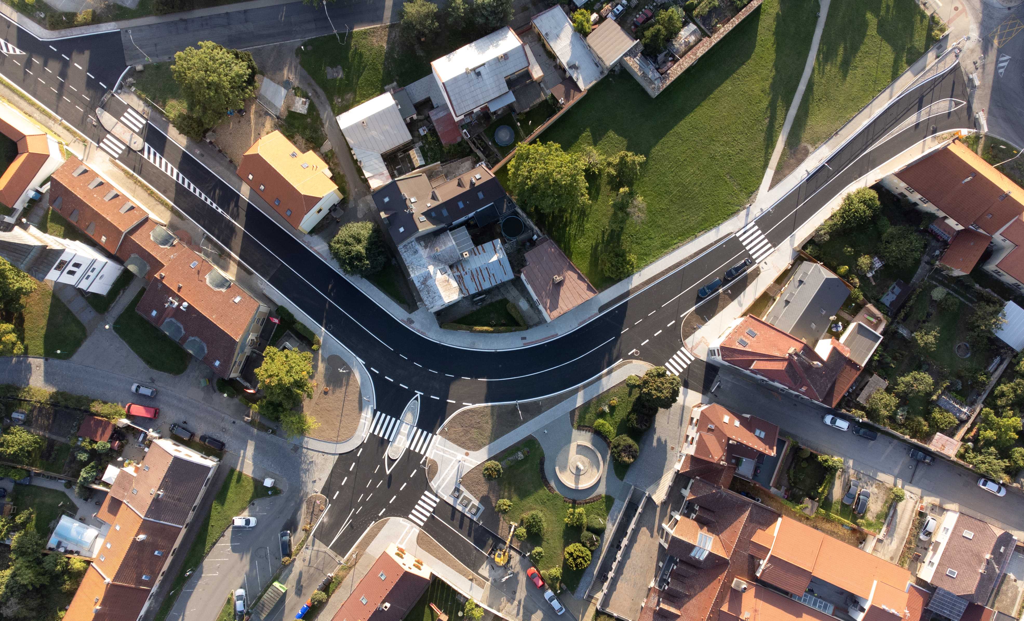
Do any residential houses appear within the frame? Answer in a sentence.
Yes, there's a residential house down there.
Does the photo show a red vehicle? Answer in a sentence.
Yes, the image includes a red vehicle.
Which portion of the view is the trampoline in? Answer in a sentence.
The trampoline sits in the top section of the image.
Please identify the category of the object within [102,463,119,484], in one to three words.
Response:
gazebo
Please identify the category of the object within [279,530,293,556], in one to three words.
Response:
car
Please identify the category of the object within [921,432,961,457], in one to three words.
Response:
shed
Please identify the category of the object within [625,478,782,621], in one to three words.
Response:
house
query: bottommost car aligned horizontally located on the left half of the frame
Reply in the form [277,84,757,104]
[232,516,258,528]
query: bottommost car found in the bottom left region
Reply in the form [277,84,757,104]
[233,588,248,615]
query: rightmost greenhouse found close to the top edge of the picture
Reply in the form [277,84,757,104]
[668,20,701,57]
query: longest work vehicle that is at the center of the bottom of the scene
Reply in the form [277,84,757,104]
[491,528,515,572]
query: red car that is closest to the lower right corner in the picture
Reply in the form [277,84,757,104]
[526,565,545,591]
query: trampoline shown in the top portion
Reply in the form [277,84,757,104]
[494,126,514,147]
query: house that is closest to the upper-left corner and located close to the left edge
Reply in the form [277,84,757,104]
[0,98,70,214]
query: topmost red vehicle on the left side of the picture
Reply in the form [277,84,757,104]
[126,402,161,419]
